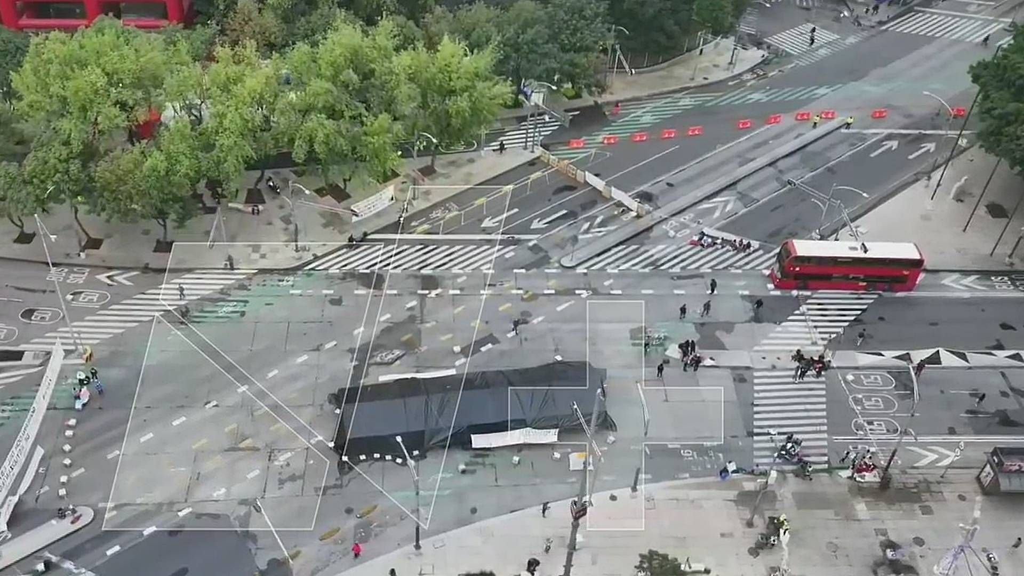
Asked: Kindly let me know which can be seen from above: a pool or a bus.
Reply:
bus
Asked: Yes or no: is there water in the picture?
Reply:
No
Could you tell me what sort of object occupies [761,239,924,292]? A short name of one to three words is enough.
bus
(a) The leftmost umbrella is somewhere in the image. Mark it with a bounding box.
[65,365,86,379]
